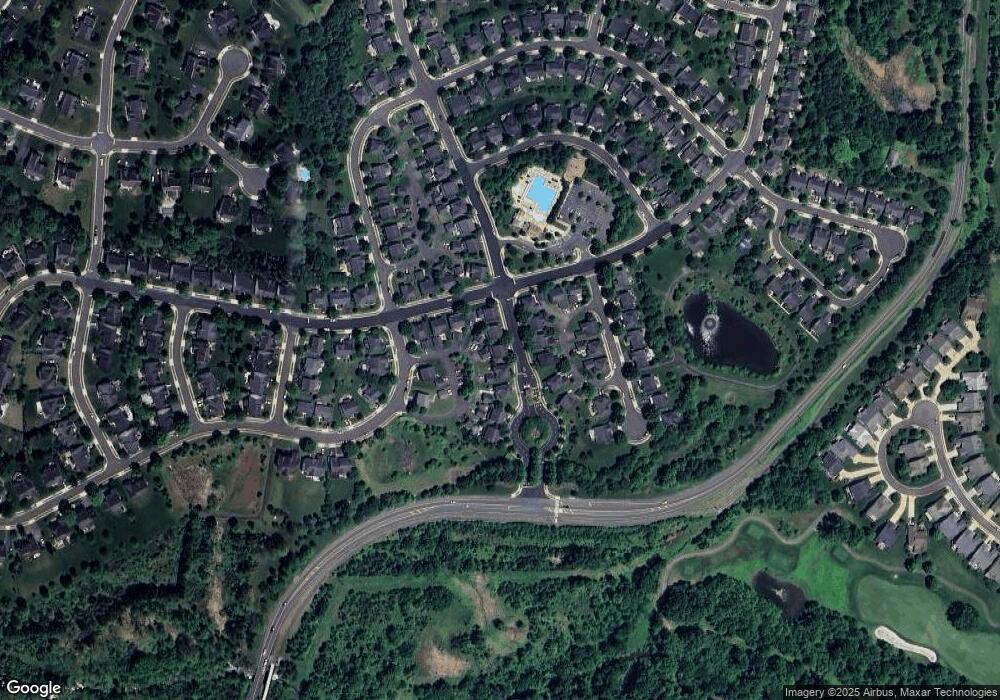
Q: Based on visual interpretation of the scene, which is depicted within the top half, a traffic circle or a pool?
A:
pool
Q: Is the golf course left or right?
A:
right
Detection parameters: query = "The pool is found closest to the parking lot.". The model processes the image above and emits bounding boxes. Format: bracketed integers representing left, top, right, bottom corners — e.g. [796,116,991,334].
[512,168,562,232]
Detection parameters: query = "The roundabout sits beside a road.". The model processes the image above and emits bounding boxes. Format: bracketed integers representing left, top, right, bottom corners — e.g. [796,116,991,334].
[512,405,560,498]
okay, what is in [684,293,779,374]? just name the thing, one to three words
pond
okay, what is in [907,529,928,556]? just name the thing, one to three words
house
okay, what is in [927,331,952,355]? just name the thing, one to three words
house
